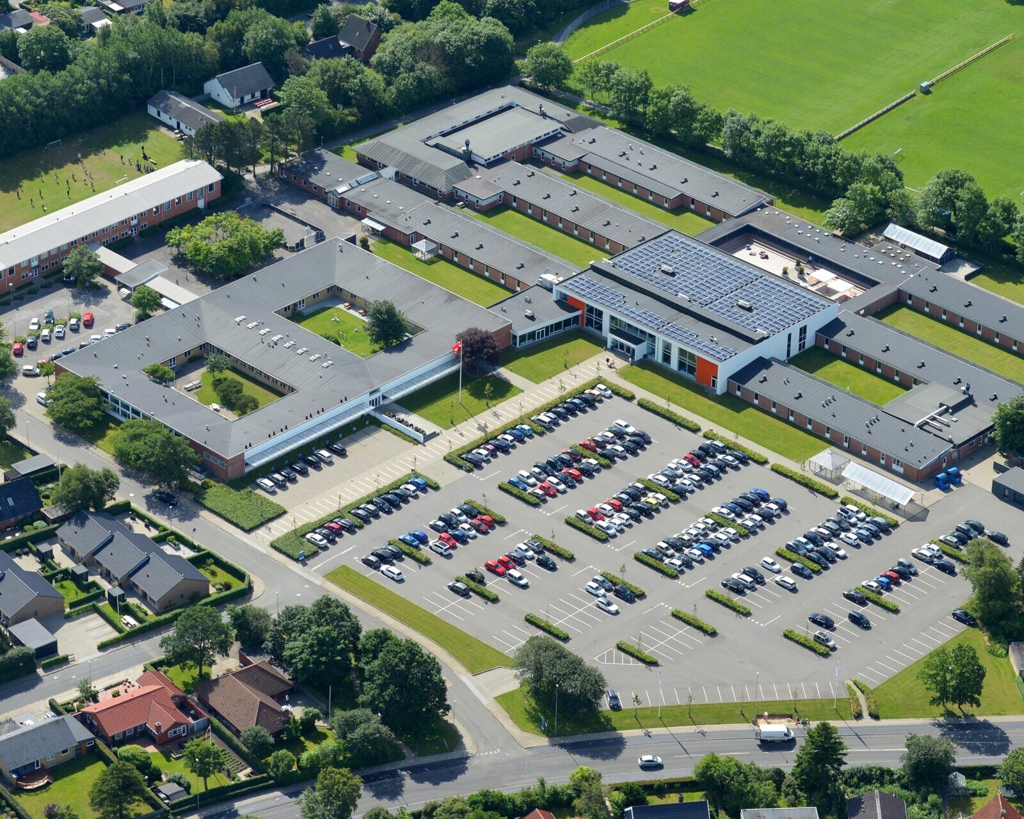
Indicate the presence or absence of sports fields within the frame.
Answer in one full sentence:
Yes, this view includes a sports field.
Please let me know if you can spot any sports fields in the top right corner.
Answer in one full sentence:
Yes, the scene does show a sports field in the top right corner.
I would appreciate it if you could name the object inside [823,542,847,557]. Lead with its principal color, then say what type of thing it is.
white car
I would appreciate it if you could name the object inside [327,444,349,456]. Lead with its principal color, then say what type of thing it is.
black vehicle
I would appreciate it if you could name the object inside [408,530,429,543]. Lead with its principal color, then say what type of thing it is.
blue vehicle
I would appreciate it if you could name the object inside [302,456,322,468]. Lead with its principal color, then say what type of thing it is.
black vehicle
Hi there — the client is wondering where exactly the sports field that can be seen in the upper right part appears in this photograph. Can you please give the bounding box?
[556,0,1024,226]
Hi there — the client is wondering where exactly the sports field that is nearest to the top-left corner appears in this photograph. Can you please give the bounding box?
[0,116,189,235]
